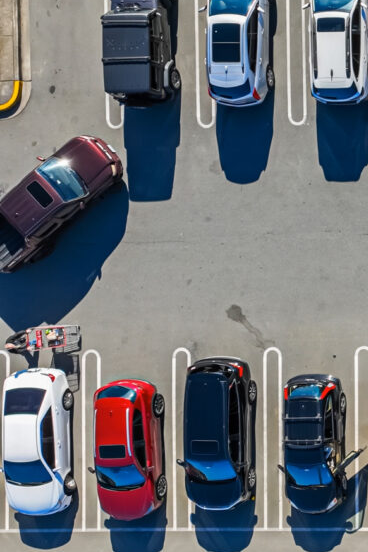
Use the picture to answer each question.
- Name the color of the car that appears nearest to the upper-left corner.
black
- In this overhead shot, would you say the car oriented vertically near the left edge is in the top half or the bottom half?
bottom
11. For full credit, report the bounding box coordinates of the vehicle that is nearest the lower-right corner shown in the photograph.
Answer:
[278,372,368,516]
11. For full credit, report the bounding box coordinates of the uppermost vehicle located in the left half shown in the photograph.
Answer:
[102,0,179,105]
